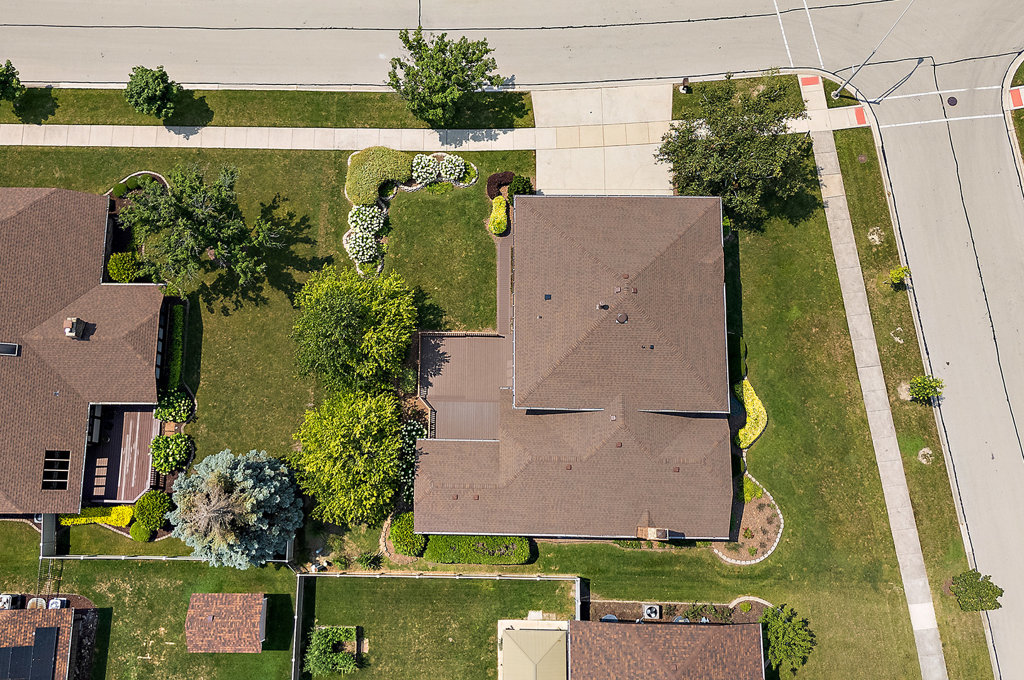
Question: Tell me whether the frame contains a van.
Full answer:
No, the scene contains no van.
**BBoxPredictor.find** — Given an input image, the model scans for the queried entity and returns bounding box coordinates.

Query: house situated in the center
[414,194,734,540]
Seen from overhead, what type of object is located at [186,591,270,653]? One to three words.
shed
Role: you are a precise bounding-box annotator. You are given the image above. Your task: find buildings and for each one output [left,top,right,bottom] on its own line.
[186,591,270,653]
[414,194,734,540]
[567,619,766,680]
[0,607,85,680]
[0,188,172,513]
